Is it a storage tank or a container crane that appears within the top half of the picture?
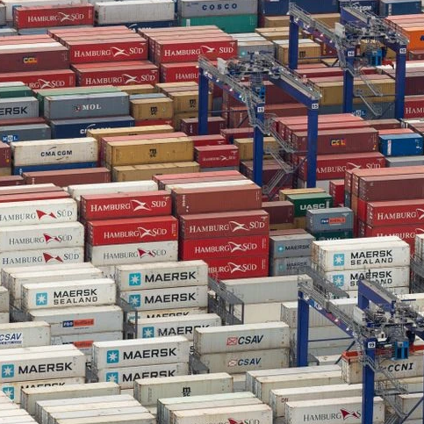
container crane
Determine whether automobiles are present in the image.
No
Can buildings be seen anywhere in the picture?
No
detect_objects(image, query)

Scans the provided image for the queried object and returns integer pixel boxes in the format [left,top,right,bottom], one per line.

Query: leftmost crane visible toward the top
[193,53,328,202]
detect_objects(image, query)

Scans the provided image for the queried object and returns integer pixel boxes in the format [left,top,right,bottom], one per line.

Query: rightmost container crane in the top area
[285,0,419,130]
